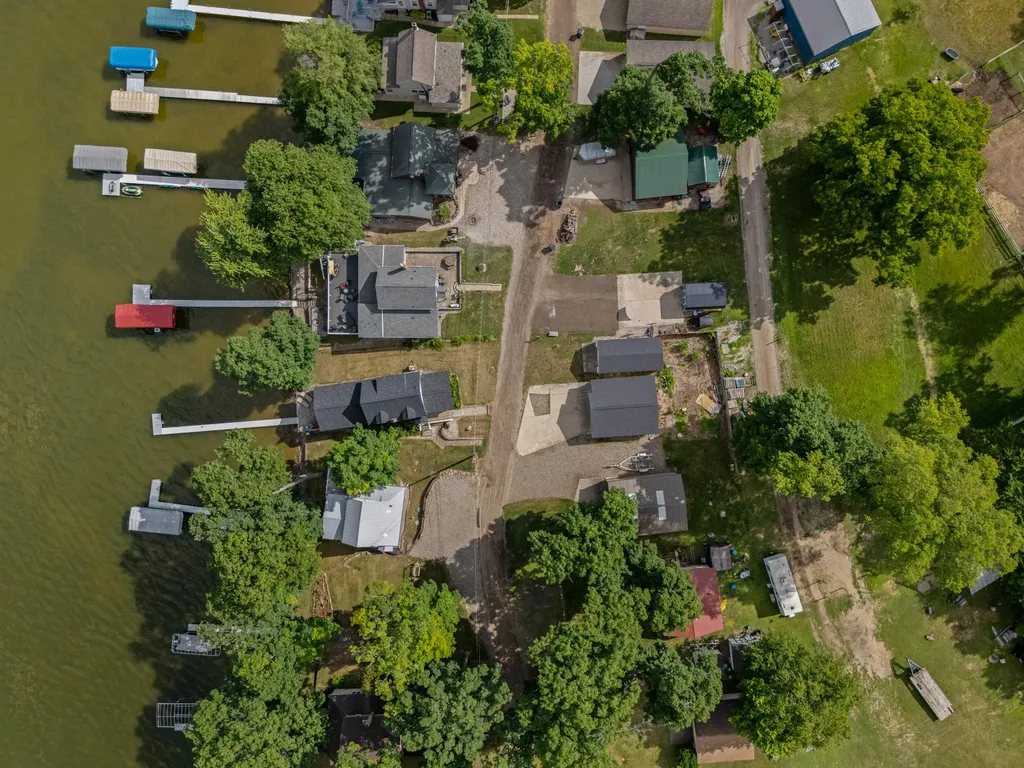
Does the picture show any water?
Yes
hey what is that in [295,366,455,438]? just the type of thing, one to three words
house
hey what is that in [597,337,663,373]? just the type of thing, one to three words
building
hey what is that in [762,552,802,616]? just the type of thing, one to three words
camper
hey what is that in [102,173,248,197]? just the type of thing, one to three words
pier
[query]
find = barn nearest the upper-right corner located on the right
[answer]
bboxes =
[783,0,881,65]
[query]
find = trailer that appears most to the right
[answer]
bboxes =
[904,655,955,720]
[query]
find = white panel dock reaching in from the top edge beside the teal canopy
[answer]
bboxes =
[170,0,330,24]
